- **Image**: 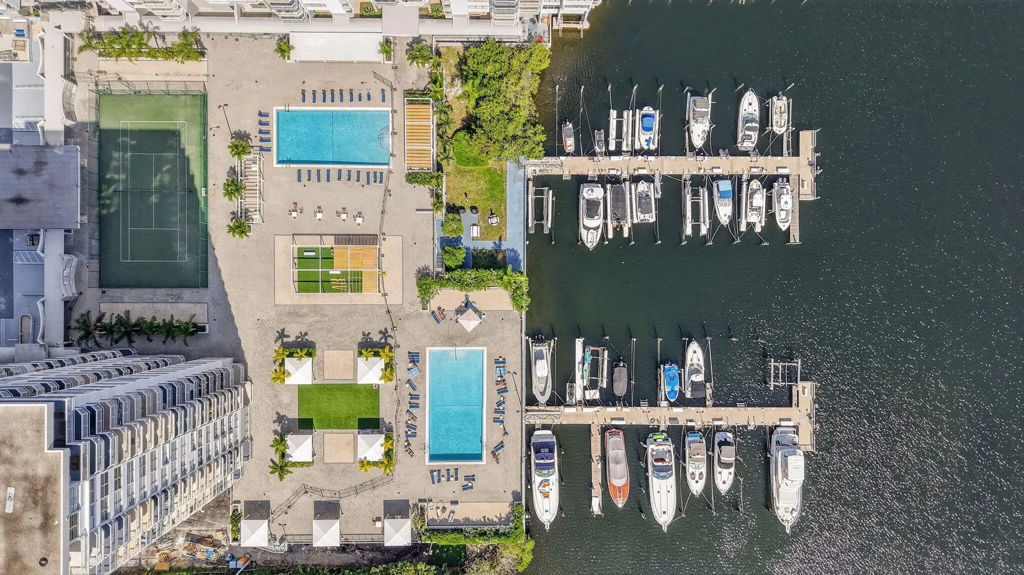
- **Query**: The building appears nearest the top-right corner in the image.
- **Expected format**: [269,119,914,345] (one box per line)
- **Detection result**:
[552,0,596,39]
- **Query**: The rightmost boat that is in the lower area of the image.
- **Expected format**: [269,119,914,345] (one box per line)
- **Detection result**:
[768,425,806,539]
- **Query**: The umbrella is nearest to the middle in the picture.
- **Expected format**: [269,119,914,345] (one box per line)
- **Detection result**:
[453,304,486,336]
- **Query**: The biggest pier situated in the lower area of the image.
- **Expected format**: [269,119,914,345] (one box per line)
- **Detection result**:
[525,382,818,451]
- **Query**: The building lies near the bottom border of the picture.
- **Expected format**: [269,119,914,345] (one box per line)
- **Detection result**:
[0,347,252,575]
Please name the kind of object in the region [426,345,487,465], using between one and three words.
swimming pool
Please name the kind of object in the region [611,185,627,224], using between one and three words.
boat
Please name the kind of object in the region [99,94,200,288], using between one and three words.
tennis court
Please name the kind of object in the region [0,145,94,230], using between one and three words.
building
